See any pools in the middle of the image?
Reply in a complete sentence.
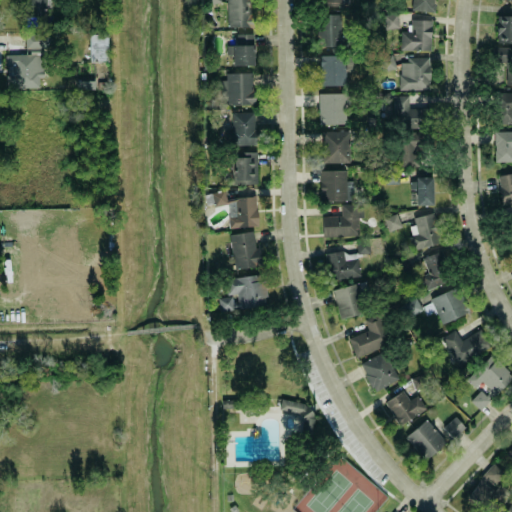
Yes, you'll find a pool in the middle of the image.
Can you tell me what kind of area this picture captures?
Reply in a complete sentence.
The area seen from above is a residential area.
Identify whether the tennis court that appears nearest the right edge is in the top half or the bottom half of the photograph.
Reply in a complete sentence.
Seen from above, the tennis court that appears nearest the right edge lies in the bottom half of the view.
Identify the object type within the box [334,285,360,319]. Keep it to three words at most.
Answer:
house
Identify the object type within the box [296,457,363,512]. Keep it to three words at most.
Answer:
tennis court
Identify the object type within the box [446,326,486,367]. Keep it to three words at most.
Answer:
house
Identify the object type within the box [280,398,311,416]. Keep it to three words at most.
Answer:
building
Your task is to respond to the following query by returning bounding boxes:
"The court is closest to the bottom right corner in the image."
[334,476,386,512]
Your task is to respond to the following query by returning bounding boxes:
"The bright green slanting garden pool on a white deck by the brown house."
[208,205,230,230]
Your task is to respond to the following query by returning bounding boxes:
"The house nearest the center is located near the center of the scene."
[232,232,261,269]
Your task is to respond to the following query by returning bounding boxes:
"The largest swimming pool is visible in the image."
[226,405,287,468]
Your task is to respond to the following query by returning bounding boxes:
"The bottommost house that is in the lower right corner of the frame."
[476,463,504,493]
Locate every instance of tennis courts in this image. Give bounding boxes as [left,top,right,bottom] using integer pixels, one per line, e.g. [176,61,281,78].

[334,476,386,512]
[296,457,363,512]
